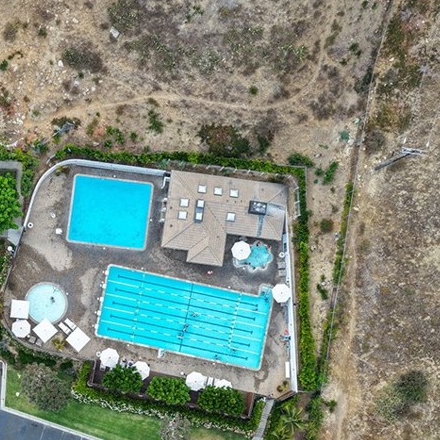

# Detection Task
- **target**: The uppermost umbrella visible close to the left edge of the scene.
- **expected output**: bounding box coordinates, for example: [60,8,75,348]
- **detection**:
[11,300,29,318]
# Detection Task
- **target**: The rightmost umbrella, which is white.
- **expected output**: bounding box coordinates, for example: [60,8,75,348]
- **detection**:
[271,284,290,302]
